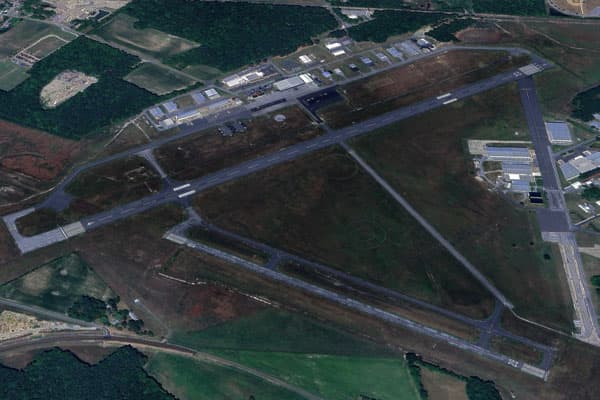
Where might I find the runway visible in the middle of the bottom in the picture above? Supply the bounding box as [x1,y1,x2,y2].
[163,233,548,380]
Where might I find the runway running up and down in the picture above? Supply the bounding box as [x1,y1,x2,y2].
[517,74,564,207]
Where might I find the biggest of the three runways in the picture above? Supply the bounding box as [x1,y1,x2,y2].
[19,60,553,252]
